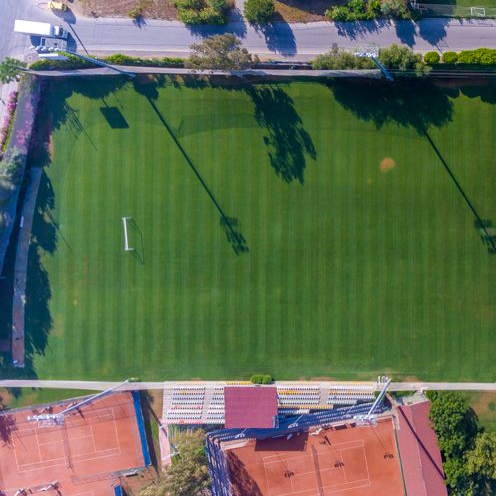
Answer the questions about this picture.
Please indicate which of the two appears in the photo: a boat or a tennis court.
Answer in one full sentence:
Looking from above, you can make out a tennis court.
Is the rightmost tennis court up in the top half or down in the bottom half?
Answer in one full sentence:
The rightmost tennis court sits in the bottom half of the picture.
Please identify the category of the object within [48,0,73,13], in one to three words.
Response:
vehicle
